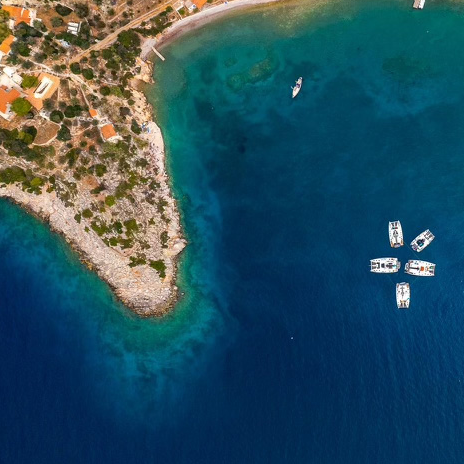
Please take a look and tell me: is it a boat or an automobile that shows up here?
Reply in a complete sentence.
I can see a boat in this picture.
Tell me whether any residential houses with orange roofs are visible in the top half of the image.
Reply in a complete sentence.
Yes, in the top half of the image there is a residential house with an orange roof.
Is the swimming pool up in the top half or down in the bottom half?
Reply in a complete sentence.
It is in the top half that the swimming pool appears.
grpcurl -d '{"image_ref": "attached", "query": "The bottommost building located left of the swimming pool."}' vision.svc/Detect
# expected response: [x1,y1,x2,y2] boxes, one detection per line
[0,85,26,119]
